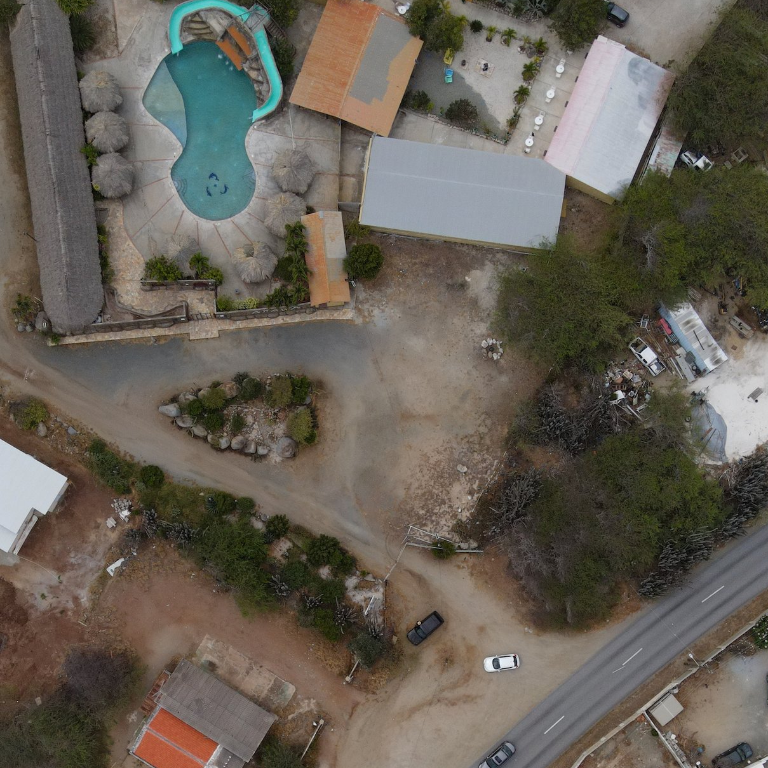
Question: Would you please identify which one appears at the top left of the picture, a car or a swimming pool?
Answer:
swimming pool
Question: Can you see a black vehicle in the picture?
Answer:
Yes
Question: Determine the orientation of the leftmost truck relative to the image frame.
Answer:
on a diagonal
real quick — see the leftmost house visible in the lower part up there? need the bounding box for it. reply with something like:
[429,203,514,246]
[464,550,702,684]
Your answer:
[0,433,82,554]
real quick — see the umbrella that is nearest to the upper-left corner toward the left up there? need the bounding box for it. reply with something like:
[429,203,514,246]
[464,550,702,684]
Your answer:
[80,69,129,114]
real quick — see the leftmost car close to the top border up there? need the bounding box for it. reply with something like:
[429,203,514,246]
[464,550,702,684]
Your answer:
[600,1,632,29]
